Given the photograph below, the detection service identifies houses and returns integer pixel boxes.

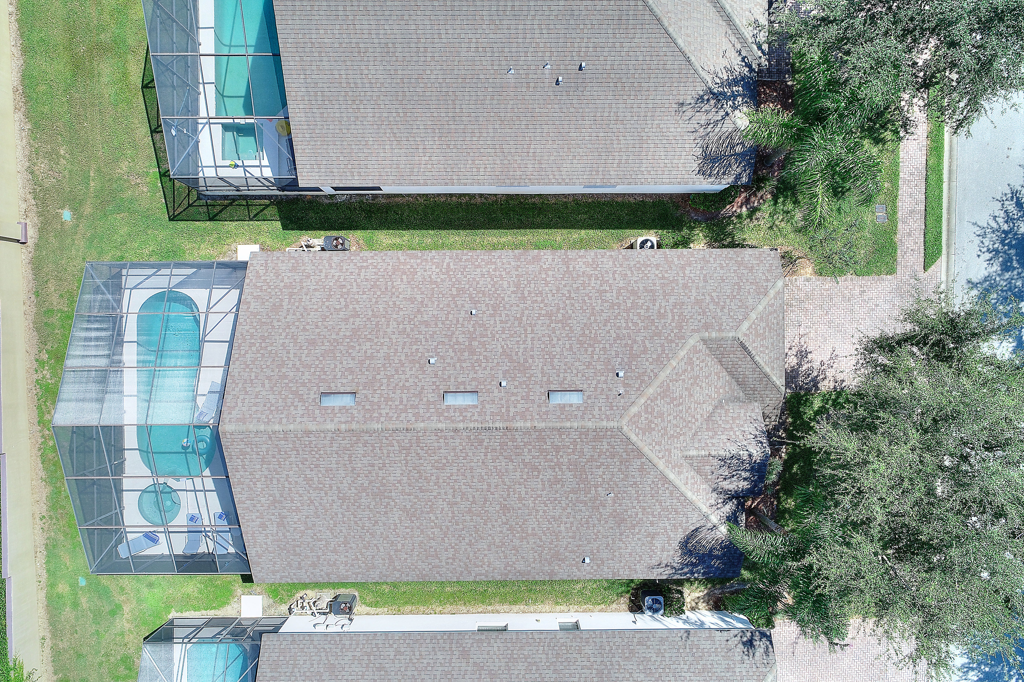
[272,0,769,194]
[218,247,787,583]
[256,611,780,682]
